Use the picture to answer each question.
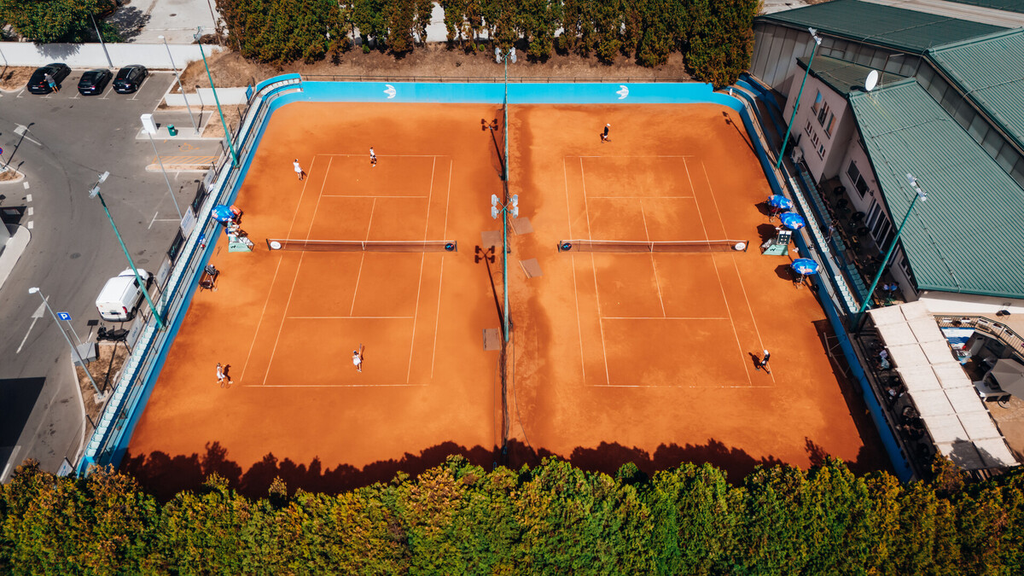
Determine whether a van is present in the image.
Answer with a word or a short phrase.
Yes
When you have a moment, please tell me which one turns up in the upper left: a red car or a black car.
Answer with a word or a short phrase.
black car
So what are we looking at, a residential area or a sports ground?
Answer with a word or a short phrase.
sports ground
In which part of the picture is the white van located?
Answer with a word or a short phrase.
left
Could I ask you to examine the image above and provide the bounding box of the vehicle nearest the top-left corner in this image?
[25,63,68,92]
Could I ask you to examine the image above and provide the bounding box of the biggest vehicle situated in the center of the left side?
[94,259,154,313]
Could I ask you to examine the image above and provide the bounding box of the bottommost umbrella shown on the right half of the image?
[992,355,1024,411]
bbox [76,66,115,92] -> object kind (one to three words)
car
